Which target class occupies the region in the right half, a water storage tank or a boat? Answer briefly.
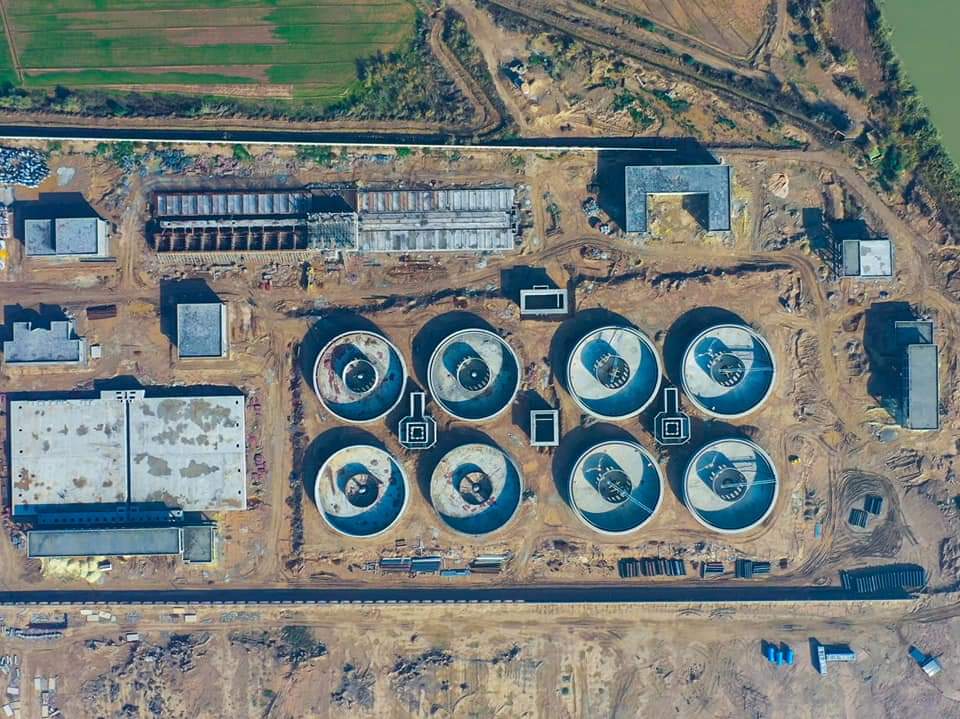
water storage tank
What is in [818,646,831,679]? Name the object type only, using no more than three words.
building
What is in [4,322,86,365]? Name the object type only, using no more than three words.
building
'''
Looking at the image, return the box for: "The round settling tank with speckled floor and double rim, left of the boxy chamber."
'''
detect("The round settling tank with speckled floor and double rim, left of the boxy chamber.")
[428,328,520,421]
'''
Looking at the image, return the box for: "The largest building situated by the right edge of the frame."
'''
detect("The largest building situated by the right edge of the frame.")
[888,321,938,429]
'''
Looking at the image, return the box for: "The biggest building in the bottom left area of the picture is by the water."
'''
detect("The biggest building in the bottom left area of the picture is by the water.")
[28,522,219,562]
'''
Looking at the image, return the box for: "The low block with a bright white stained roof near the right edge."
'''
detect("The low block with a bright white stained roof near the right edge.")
[849,239,892,281]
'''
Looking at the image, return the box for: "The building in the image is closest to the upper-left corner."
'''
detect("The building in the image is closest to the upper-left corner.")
[22,217,110,259]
